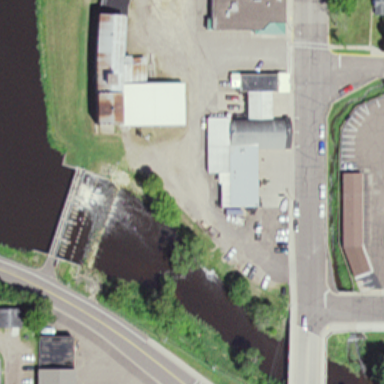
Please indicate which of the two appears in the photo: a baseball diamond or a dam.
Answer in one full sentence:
Of the two, only a dam appears.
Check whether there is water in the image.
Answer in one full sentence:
Yes, water shows up in the scene.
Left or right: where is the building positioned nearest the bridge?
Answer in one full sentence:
The building positioned nearest the bridge appears in the right half of the scene.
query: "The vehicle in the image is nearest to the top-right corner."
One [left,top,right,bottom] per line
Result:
[339,83,355,96]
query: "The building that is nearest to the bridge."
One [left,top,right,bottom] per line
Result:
[344,172,376,280]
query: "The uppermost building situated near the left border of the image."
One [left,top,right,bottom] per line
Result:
[0,307,21,329]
